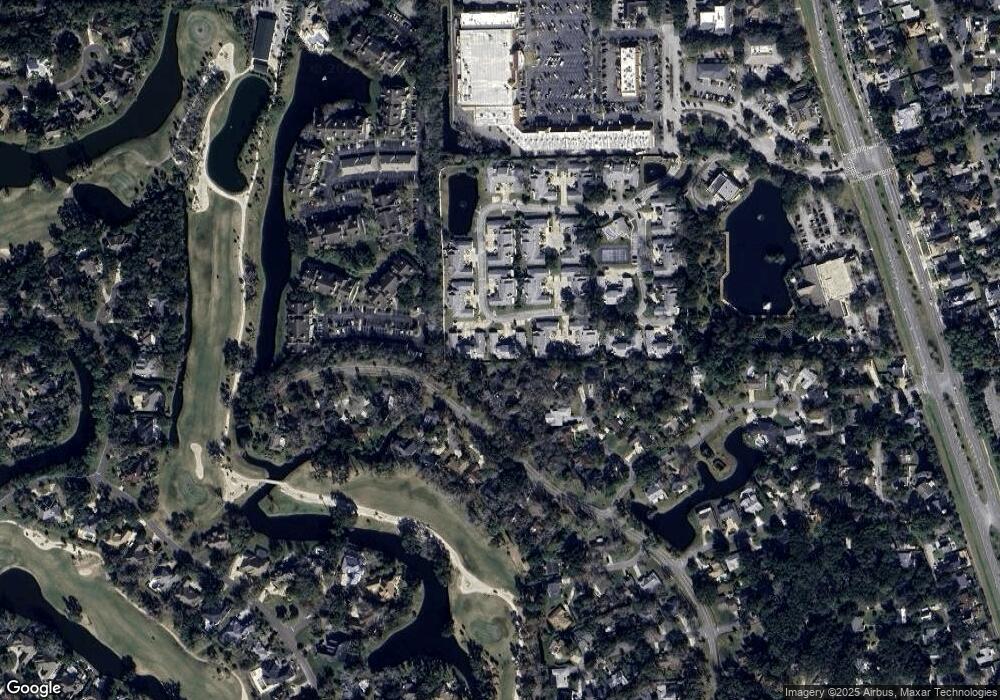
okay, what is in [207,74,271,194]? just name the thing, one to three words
pond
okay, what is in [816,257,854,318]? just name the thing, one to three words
building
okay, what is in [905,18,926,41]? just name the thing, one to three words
house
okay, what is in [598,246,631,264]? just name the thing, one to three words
tennis court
